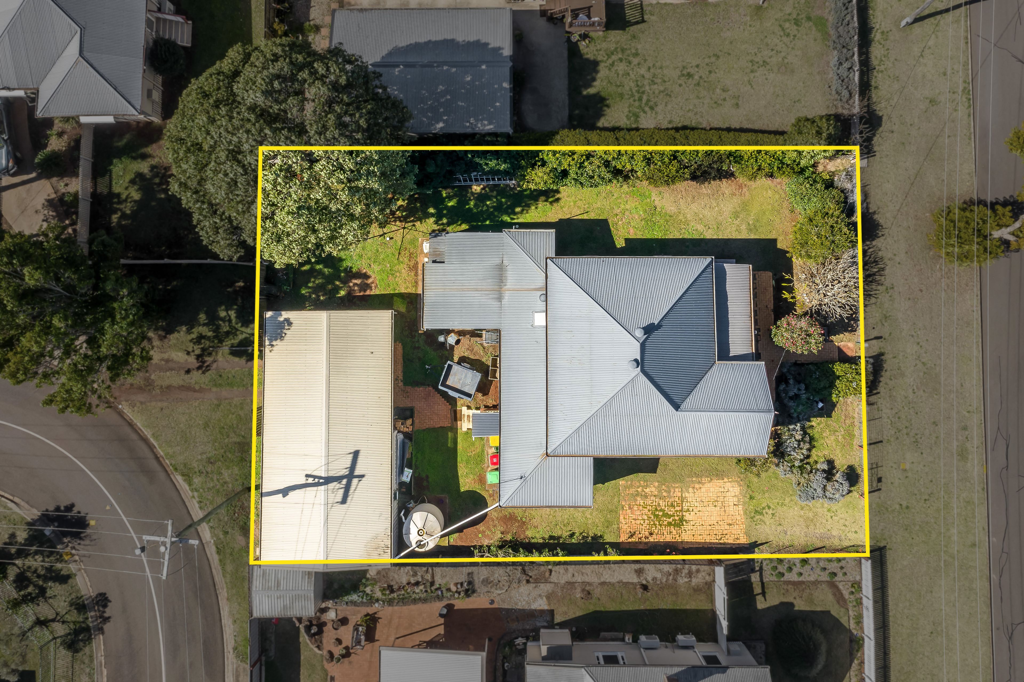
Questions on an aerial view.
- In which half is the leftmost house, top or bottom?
top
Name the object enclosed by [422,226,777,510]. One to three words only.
house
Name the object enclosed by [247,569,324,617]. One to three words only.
shed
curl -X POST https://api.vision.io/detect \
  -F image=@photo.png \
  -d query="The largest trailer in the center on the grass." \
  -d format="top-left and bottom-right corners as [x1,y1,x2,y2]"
[421,358,482,403]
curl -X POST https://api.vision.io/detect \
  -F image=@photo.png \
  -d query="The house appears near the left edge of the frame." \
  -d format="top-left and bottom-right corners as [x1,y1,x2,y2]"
[0,0,192,127]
